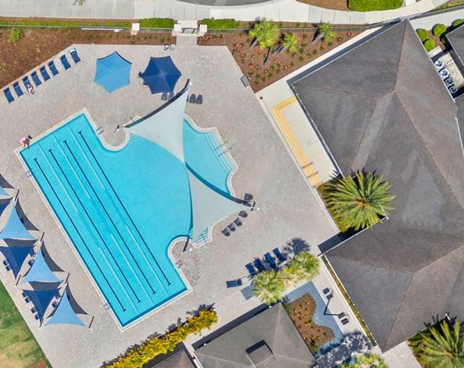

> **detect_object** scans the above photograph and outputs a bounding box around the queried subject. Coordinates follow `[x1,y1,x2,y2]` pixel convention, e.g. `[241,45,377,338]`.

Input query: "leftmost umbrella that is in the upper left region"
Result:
[94,54,131,93]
